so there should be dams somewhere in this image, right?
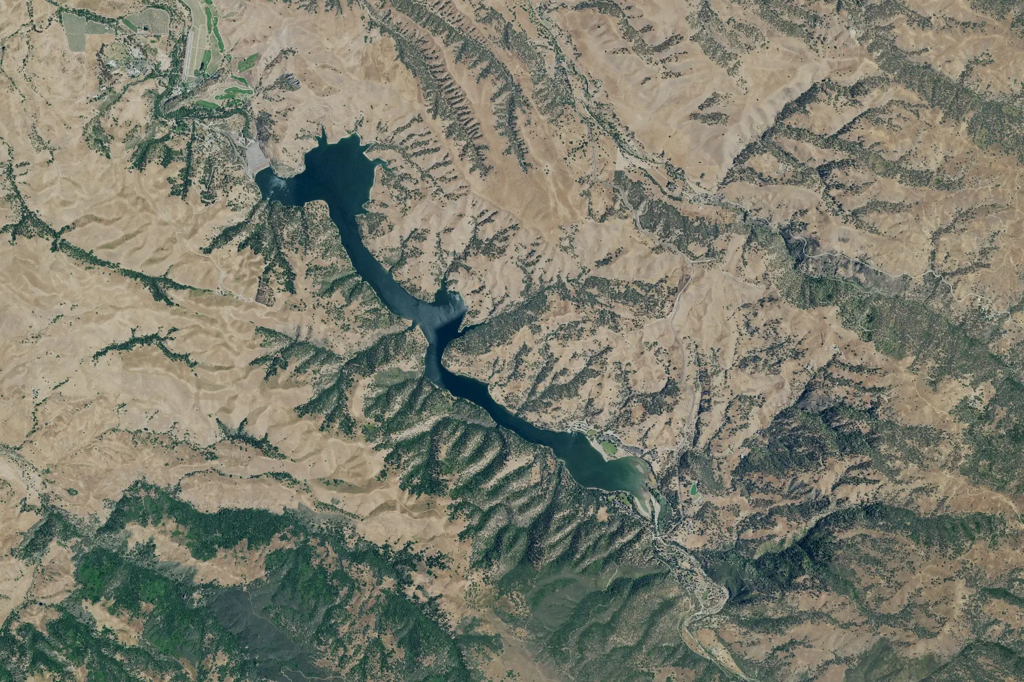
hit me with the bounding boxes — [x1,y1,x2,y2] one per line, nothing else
[245,142,271,178]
